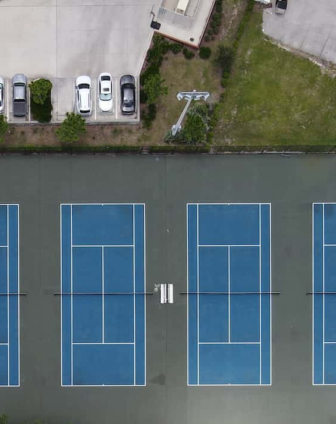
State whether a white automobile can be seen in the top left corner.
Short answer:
Yes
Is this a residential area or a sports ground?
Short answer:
sports ground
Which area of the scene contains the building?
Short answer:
top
